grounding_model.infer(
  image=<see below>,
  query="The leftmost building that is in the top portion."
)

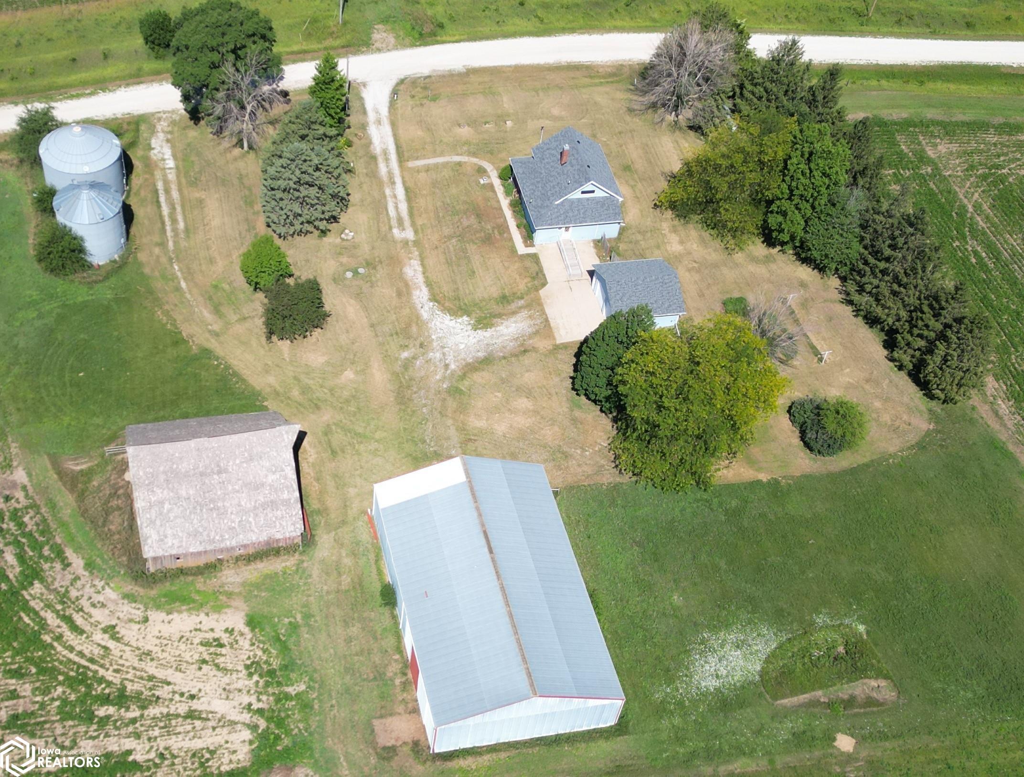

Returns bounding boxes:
[508,127,630,243]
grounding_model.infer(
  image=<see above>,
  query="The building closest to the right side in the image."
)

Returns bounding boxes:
[590,259,687,333]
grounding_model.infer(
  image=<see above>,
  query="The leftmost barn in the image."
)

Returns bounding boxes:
[124,410,304,569]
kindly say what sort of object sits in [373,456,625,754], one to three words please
shed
